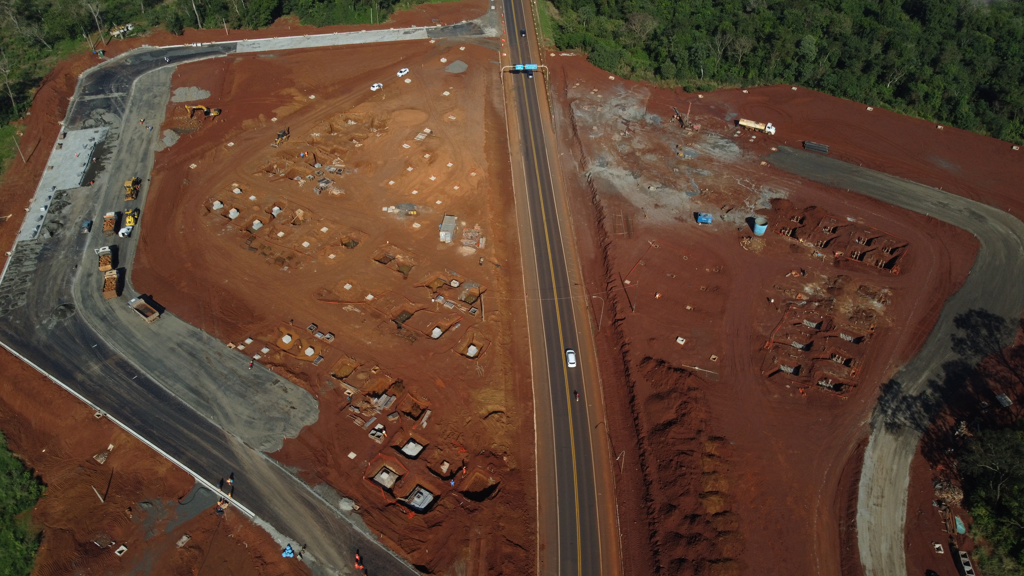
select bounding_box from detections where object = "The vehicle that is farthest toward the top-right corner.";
[739,120,775,136]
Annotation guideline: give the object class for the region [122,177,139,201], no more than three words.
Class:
work vehicle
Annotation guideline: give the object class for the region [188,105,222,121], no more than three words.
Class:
work vehicle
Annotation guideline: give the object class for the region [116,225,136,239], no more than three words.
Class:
vehicle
